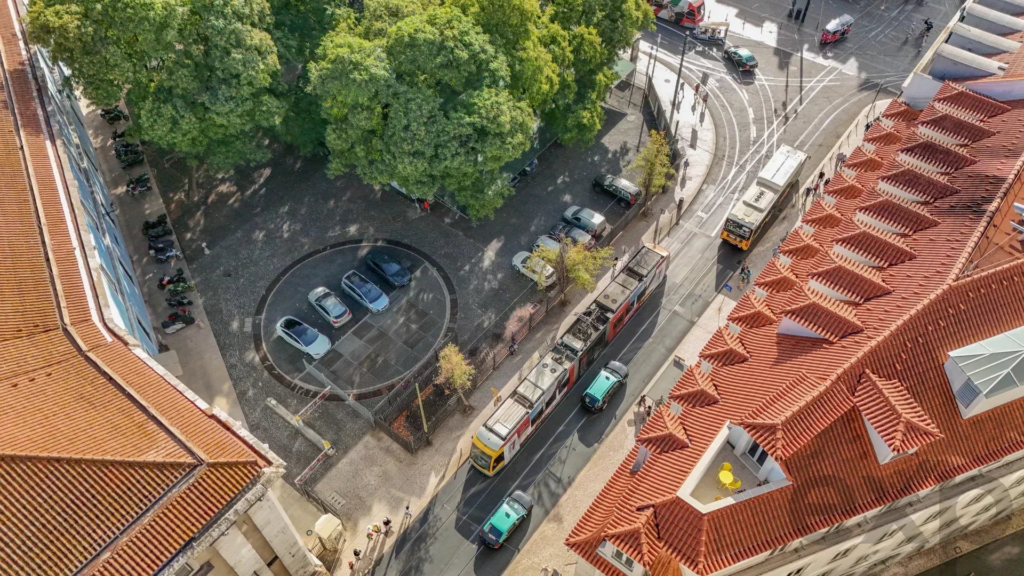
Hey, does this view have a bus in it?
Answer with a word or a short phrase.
Yes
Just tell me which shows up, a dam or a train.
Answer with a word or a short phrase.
train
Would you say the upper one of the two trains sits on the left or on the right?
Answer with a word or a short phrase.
right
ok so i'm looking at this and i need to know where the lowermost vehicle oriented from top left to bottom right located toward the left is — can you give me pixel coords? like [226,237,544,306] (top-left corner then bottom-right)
[277,317,329,360]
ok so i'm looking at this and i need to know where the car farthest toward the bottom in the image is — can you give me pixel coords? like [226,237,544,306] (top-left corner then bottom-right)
[477,487,534,557]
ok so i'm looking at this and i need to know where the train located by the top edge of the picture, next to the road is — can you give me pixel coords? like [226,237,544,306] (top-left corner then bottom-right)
[644,0,697,28]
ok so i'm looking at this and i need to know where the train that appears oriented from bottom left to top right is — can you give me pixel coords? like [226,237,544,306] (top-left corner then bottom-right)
[466,251,666,480]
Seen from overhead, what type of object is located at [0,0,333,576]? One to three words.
building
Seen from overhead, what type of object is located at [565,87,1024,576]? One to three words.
building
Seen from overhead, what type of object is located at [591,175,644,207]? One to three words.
car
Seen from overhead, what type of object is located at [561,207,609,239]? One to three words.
van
